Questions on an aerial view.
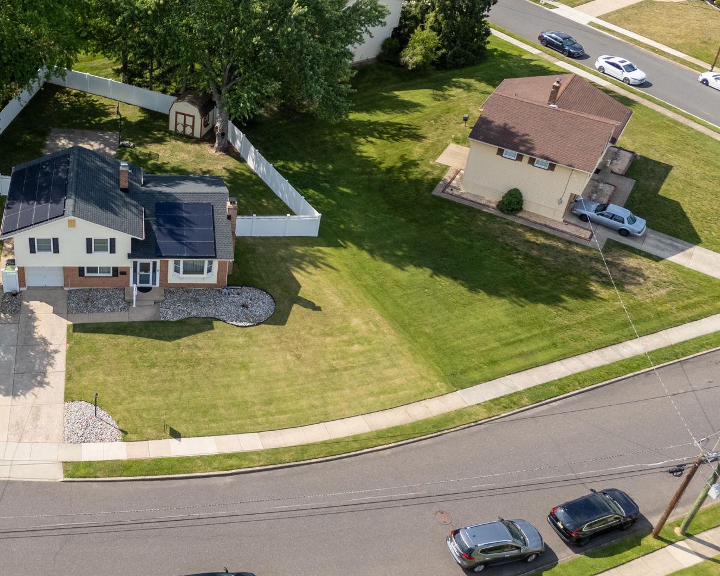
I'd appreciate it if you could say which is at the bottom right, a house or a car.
car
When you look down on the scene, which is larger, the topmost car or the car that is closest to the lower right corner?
the car that is closest to the lower right corner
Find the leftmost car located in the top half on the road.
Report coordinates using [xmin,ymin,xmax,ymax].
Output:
[541,32,584,56]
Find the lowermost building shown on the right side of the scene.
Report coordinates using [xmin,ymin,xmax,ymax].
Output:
[462,75,637,220]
